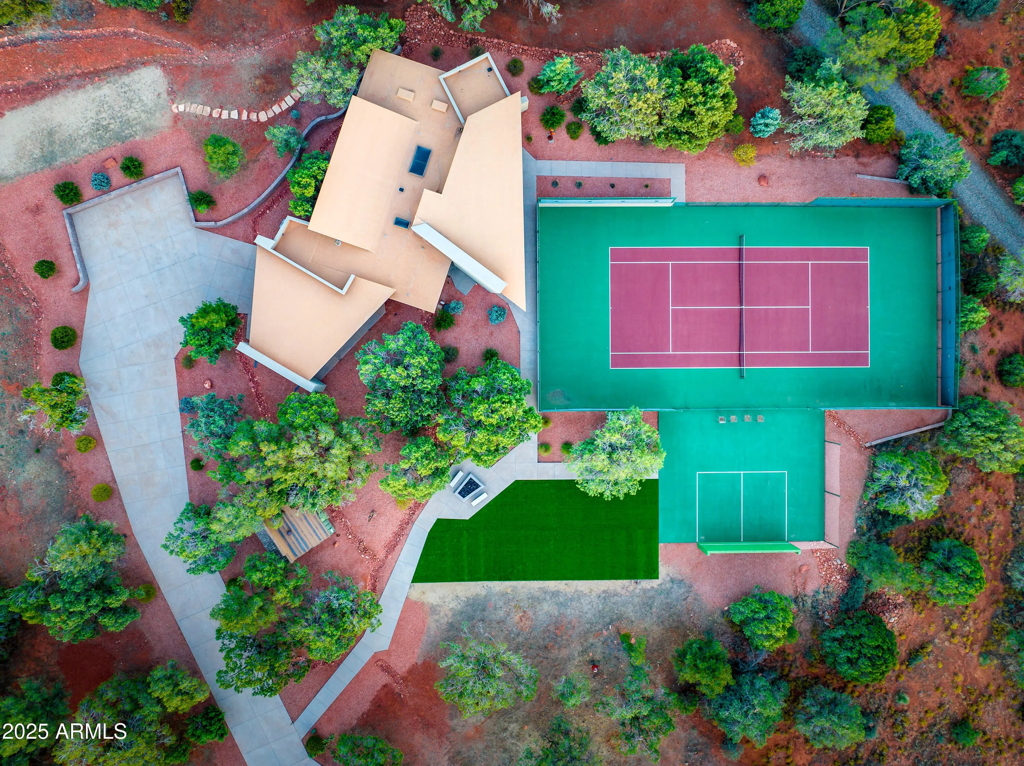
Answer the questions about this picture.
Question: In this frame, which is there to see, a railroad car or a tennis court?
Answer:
tennis court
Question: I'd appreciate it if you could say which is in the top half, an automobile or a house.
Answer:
house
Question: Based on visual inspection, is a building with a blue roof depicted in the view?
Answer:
No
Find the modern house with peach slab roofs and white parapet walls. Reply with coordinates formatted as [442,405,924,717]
[237,49,528,392]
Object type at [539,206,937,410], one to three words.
tennis court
